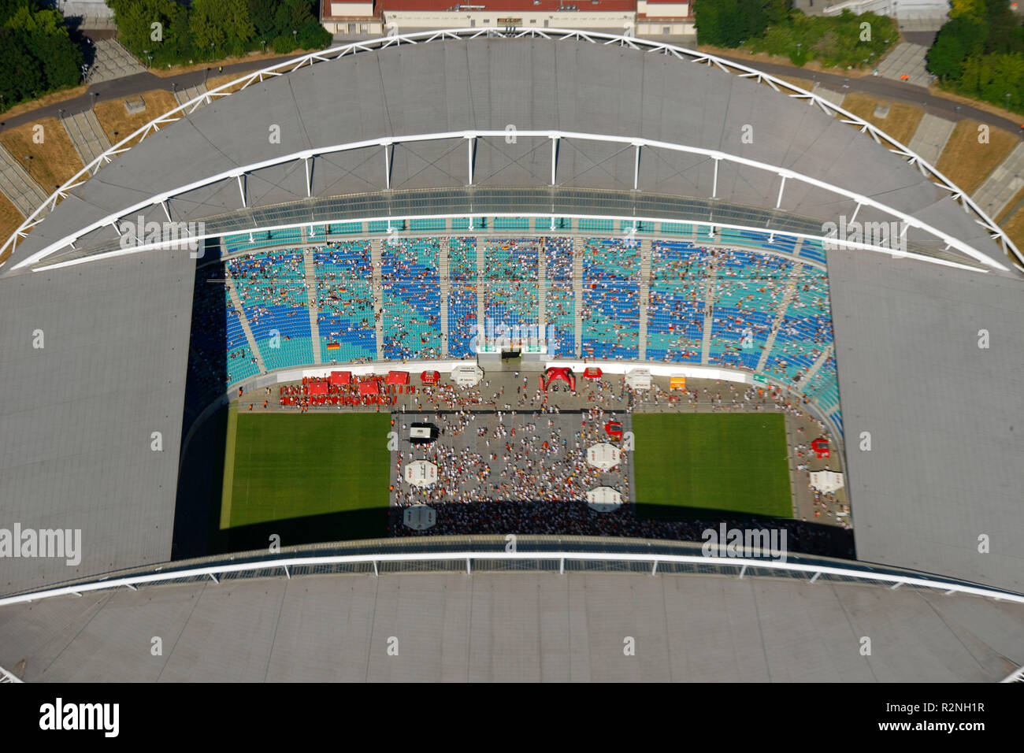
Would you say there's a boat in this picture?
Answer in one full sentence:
No, the picture doesn't show any boat.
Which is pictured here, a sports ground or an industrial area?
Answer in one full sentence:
What you see here is a sports ground.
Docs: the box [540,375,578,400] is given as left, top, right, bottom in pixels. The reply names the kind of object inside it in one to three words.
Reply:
tent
